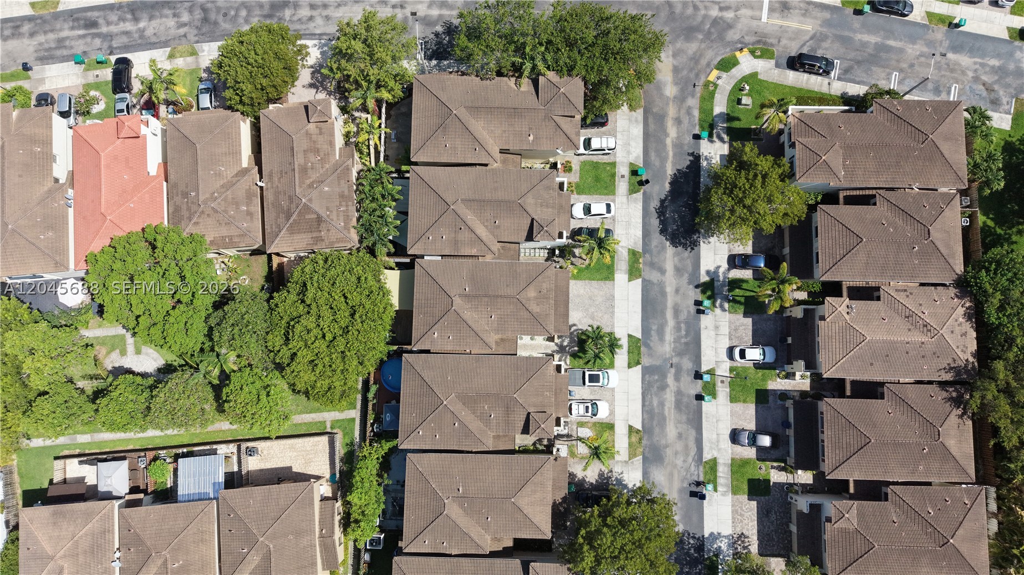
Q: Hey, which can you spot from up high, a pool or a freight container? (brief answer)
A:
pool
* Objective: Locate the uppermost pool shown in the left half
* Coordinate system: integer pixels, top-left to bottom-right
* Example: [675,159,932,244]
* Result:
[379,352,405,396]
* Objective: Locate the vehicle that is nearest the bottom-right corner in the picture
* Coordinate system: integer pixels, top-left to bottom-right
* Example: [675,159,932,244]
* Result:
[731,428,776,450]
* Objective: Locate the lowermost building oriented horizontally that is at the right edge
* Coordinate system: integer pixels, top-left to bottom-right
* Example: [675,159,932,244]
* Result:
[775,480,992,575]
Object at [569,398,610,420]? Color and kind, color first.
white car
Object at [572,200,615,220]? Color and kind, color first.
white car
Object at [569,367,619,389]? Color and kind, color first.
white truck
